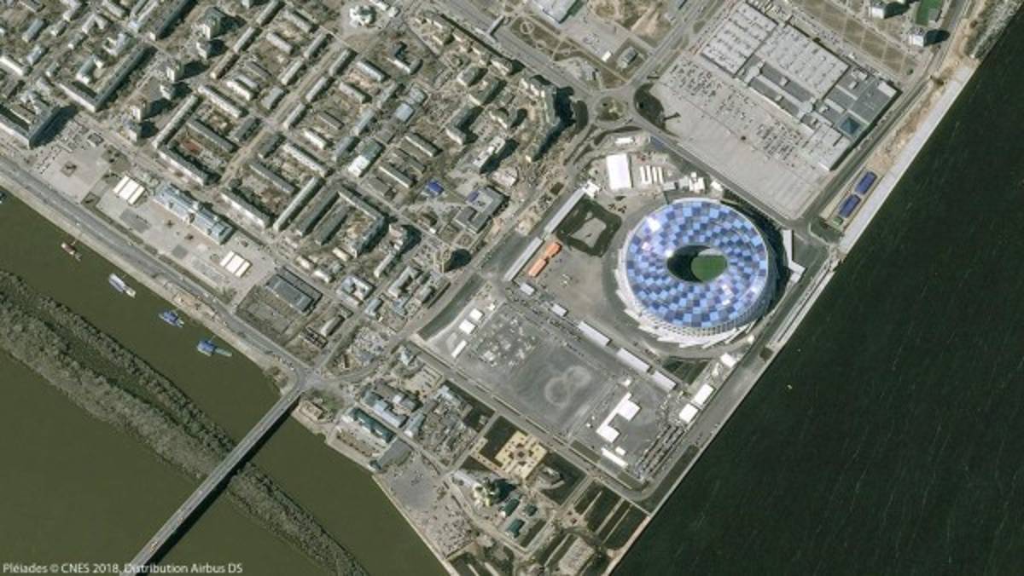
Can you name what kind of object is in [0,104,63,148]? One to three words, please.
building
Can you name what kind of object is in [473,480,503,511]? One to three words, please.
building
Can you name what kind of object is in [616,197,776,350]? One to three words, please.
stadium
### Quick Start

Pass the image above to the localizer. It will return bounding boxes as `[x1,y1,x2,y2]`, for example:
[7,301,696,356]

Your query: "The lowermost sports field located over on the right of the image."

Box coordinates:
[668,253,728,280]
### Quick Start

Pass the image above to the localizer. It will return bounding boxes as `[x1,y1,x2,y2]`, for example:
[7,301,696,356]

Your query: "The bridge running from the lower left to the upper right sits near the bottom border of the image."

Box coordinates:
[120,376,310,576]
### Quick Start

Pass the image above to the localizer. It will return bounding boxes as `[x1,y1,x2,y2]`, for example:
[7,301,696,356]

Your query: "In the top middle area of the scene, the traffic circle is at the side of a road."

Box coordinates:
[586,85,637,131]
